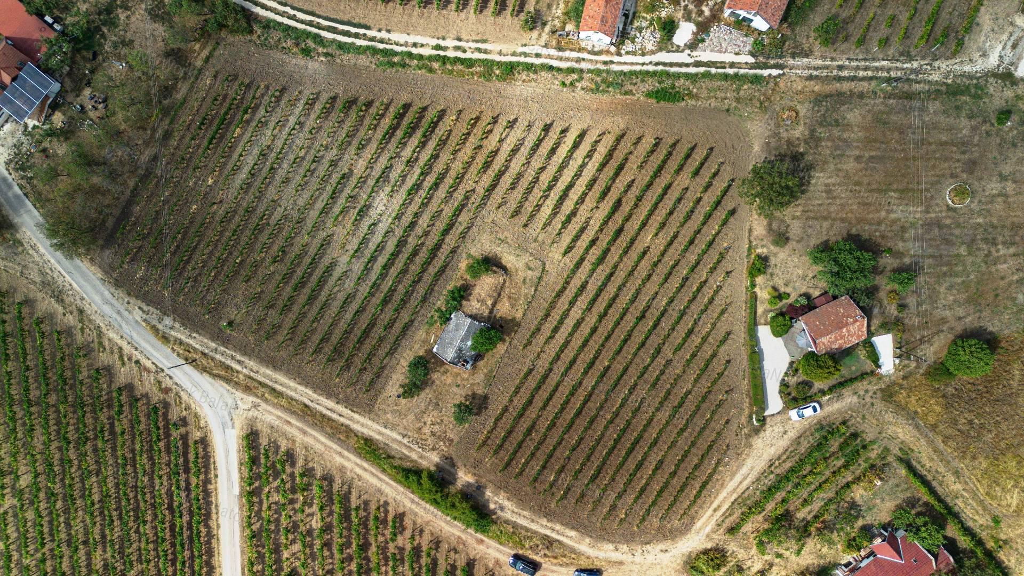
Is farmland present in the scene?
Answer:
Yes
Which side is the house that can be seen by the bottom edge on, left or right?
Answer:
right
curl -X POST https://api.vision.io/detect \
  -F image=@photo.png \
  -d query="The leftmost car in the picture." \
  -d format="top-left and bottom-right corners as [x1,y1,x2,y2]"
[506,552,540,576]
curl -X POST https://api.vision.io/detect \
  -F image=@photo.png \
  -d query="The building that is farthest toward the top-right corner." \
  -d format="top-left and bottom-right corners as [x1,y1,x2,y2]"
[722,0,789,32]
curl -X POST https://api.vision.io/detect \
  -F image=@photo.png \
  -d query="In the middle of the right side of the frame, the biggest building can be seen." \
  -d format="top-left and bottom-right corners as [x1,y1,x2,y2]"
[794,295,867,355]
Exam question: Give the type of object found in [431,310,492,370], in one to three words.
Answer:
shed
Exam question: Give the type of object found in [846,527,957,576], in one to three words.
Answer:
house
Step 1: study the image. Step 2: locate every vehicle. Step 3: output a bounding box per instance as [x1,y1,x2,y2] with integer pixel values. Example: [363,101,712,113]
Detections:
[506,552,540,576]
[571,567,603,576]
[788,401,822,420]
